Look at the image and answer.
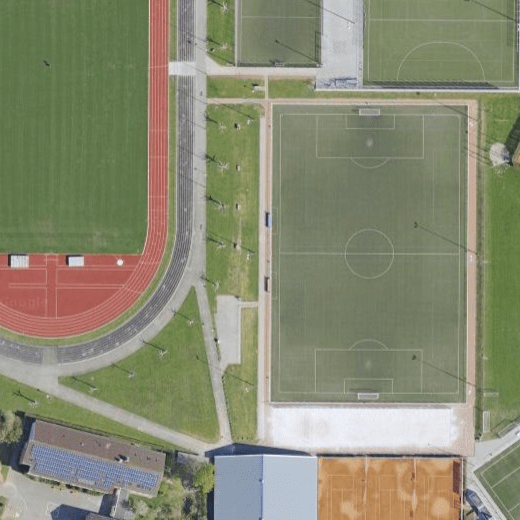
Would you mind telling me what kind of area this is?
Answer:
sports ground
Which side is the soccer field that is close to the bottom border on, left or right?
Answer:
right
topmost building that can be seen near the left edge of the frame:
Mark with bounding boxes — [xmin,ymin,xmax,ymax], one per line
[24,420,165,497]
